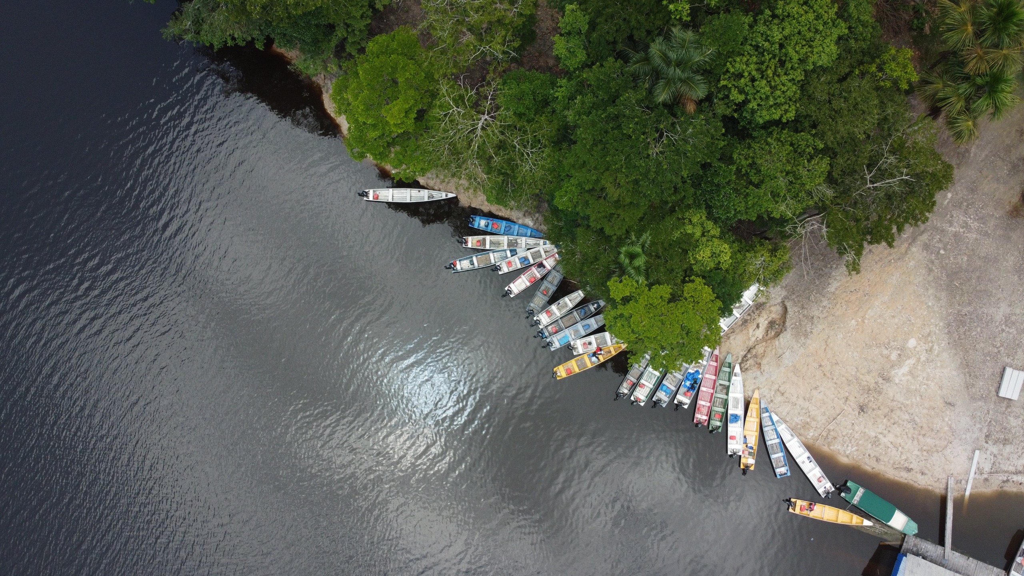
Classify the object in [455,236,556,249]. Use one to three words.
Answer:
boat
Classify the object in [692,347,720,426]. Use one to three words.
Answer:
boat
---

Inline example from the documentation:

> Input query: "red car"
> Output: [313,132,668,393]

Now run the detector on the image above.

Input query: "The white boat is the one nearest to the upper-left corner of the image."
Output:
[357,188,457,203]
